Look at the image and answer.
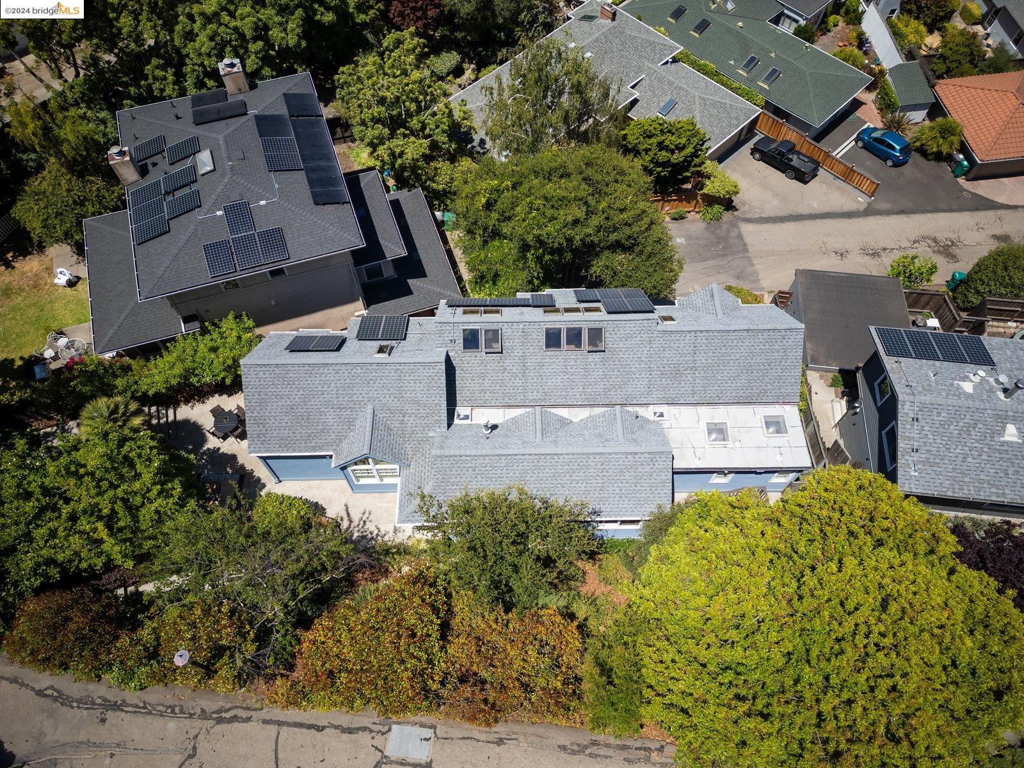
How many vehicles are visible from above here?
2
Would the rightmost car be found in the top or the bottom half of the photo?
top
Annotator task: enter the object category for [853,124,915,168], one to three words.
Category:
car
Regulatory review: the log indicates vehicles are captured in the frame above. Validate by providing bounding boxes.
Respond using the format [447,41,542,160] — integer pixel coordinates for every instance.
[853,124,915,168]
[746,134,817,181]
